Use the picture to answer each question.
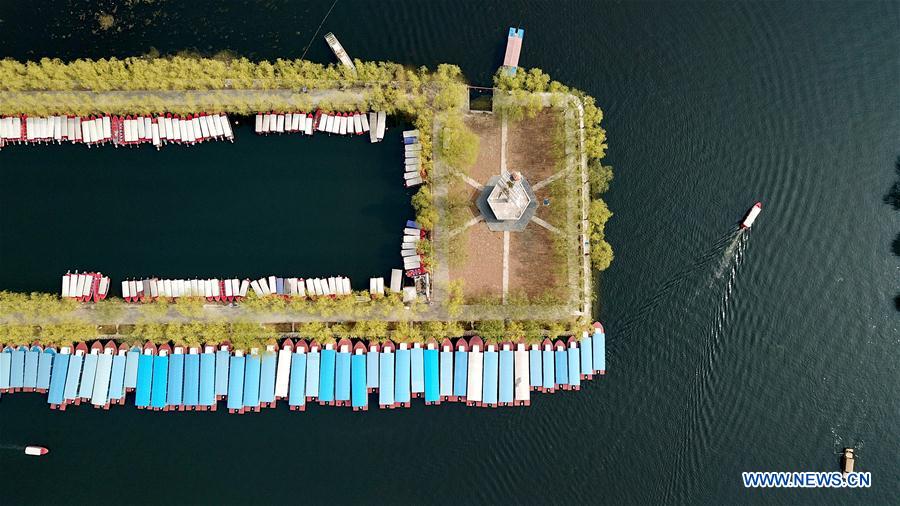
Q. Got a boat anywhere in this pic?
Yes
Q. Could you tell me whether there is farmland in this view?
No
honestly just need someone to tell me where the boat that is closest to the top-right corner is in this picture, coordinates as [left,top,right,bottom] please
[740,204,758,228]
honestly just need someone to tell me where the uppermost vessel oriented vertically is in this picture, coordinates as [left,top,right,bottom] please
[504,28,523,76]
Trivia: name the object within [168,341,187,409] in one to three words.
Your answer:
boat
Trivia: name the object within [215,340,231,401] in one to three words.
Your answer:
boat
